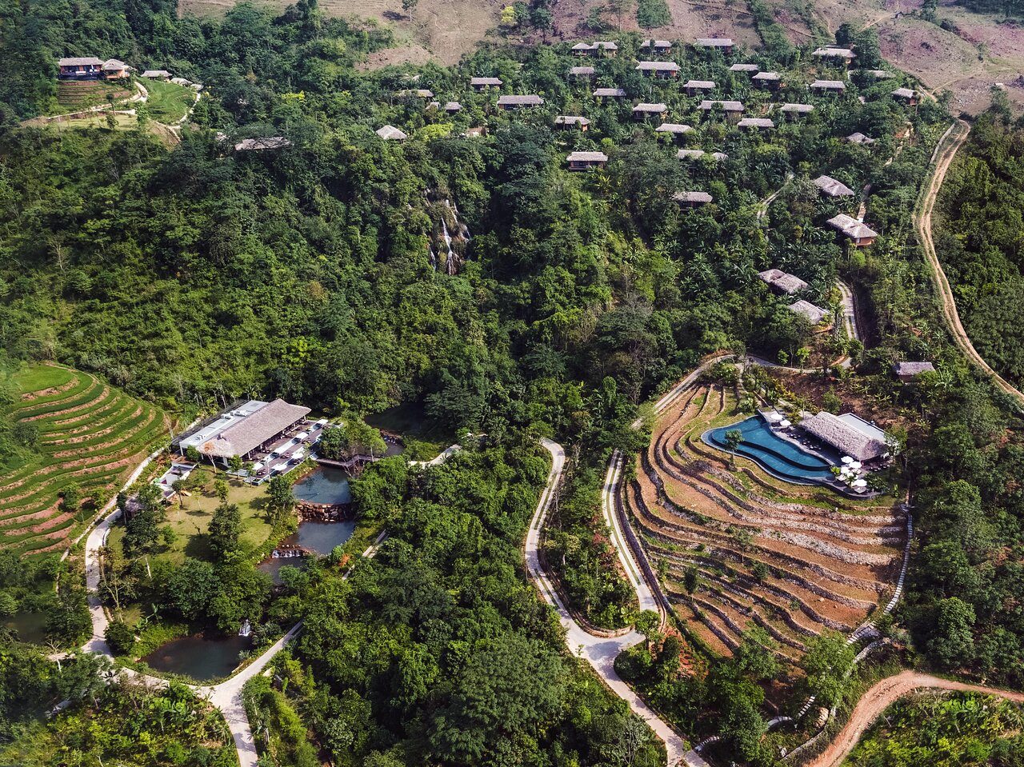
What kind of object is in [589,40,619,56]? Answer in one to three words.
house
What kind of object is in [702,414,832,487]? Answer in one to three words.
swimming pool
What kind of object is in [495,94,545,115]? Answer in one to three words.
house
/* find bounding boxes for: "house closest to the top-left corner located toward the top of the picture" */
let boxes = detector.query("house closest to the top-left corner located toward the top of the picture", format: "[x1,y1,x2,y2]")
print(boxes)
[52,55,108,85]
